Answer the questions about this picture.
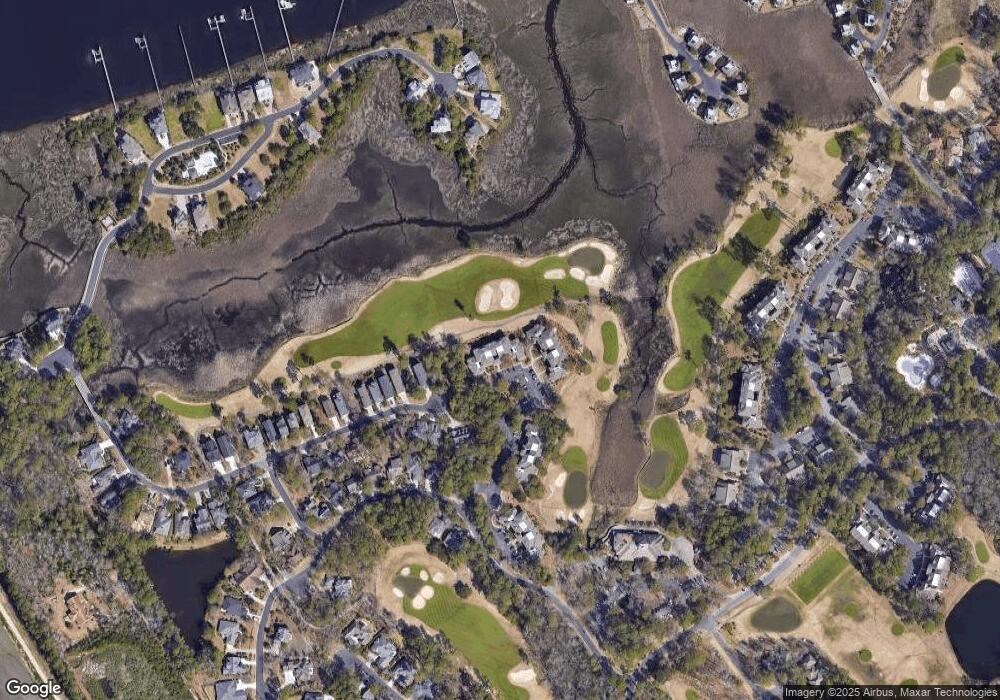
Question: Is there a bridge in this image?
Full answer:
Yes, the picture does show a bridge.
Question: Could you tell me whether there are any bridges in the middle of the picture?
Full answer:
No, there's no bridge to be seen in the middle of the picture.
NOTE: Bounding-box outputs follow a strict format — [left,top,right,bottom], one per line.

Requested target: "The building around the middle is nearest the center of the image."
[468,334,526,376]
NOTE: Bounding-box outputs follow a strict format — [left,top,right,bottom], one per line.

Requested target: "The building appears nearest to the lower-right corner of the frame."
[918,545,953,597]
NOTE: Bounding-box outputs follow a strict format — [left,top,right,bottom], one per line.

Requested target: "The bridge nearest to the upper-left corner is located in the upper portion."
[79,230,110,301]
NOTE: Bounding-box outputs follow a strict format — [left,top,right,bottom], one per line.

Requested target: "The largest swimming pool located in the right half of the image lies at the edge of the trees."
[896,355,934,390]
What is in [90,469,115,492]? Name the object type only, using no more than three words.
house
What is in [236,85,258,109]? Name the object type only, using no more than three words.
house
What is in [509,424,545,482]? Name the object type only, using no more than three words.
building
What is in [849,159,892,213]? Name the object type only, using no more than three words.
building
